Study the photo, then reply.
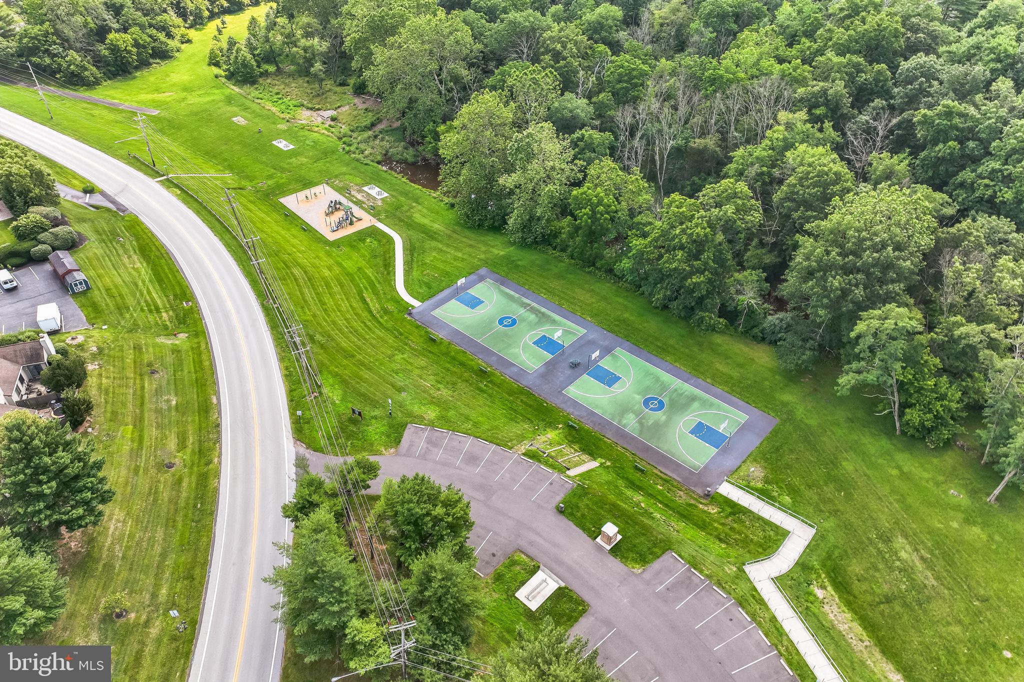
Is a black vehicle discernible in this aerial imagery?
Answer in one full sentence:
No, I can see no black vehicle in this picture.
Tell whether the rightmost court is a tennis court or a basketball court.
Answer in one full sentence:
From above, the rightmost court can be identified as a basketball court.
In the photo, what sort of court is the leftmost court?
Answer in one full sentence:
Specifically, the leftmost court is a basketball court.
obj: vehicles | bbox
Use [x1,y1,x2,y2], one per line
[38,298,64,329]
[0,268,16,288]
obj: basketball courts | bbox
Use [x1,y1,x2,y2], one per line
[431,279,587,373]
[563,348,749,473]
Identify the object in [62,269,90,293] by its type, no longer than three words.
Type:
shed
